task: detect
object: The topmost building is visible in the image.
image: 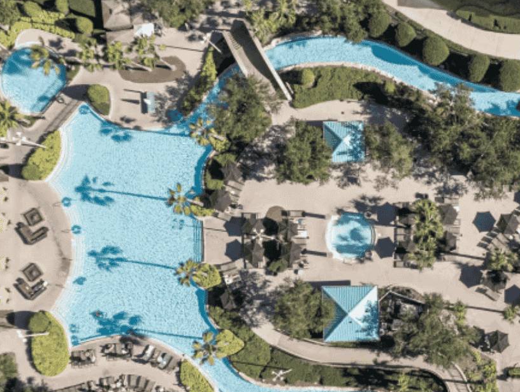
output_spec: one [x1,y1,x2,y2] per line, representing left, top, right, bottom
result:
[102,0,143,29]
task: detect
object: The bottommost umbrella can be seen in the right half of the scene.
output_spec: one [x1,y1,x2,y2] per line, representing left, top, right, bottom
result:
[485,327,510,354]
